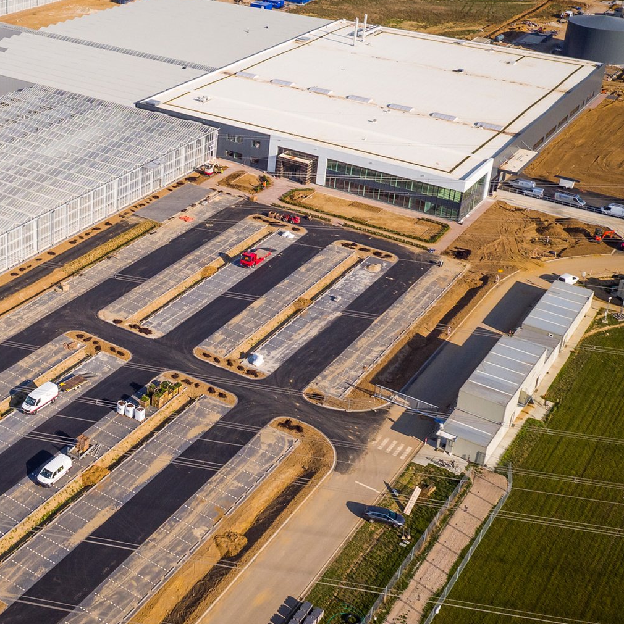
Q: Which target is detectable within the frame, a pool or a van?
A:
van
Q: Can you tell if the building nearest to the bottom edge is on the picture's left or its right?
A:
right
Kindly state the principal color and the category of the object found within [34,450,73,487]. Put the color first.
white van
